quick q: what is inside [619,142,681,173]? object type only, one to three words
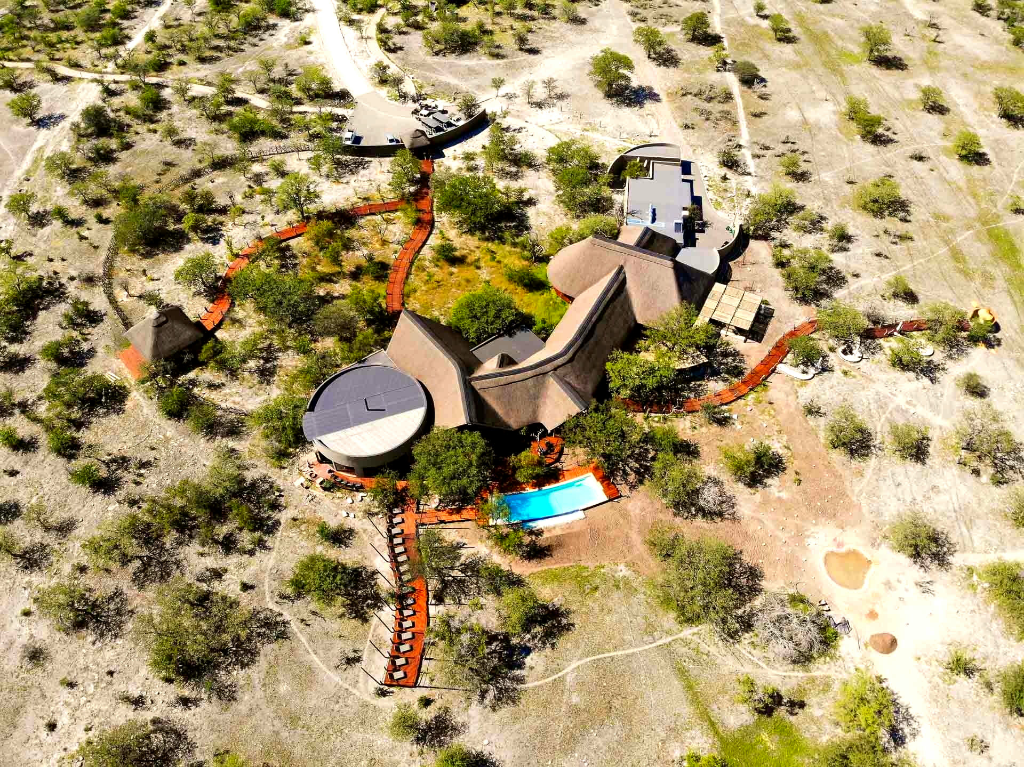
building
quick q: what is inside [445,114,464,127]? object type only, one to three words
vehicle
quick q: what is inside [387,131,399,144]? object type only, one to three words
vehicle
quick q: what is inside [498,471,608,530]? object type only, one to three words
swimming pool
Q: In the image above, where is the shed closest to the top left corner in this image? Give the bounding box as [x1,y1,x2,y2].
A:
[124,306,203,360]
